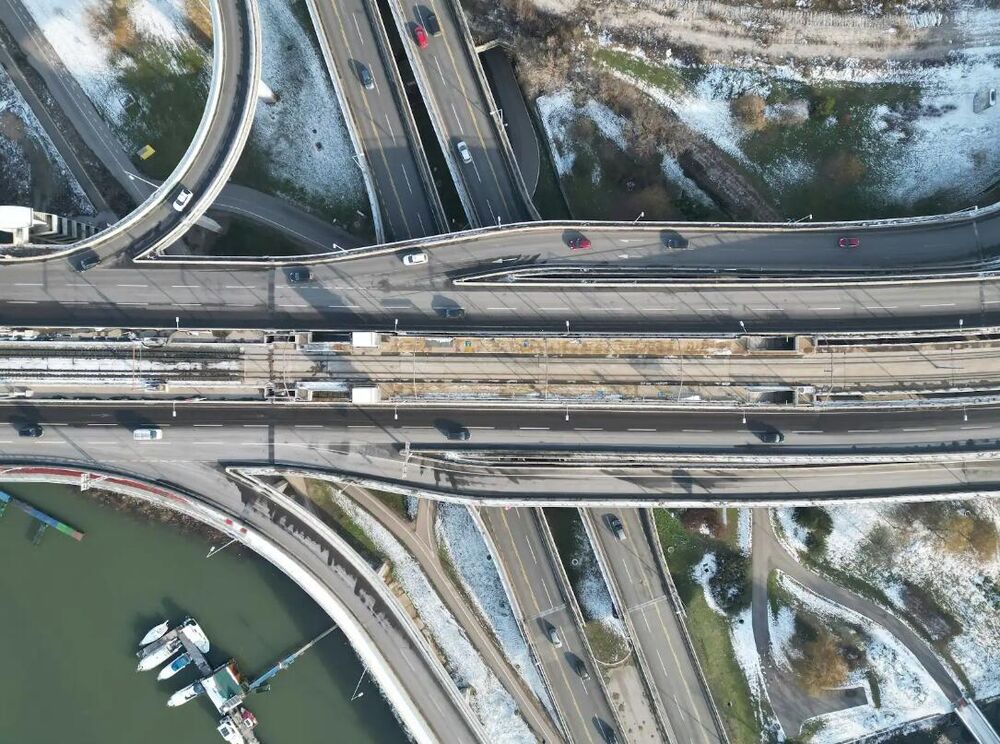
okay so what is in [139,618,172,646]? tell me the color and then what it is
white boat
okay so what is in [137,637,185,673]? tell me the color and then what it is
white boat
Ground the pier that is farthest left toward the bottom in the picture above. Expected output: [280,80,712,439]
[0,486,85,543]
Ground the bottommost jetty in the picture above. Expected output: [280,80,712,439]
[226,707,262,744]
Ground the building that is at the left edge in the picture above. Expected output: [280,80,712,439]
[0,206,77,243]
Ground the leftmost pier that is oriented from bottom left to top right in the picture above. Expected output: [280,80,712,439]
[134,629,181,659]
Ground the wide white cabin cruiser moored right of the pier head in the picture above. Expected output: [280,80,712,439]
[180,617,211,655]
